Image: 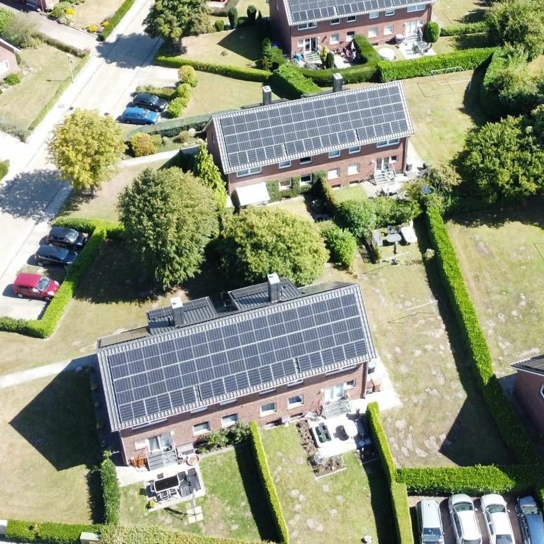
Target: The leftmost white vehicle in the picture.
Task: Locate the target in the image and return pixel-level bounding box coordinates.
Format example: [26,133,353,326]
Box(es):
[414,494,451,544]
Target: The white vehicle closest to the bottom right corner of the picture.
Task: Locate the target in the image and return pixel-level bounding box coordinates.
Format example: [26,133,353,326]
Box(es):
[482,496,516,544]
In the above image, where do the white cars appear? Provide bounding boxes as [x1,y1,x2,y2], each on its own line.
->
[450,496,483,544]
[482,496,516,544]
[414,494,451,544]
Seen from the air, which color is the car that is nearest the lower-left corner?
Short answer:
red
